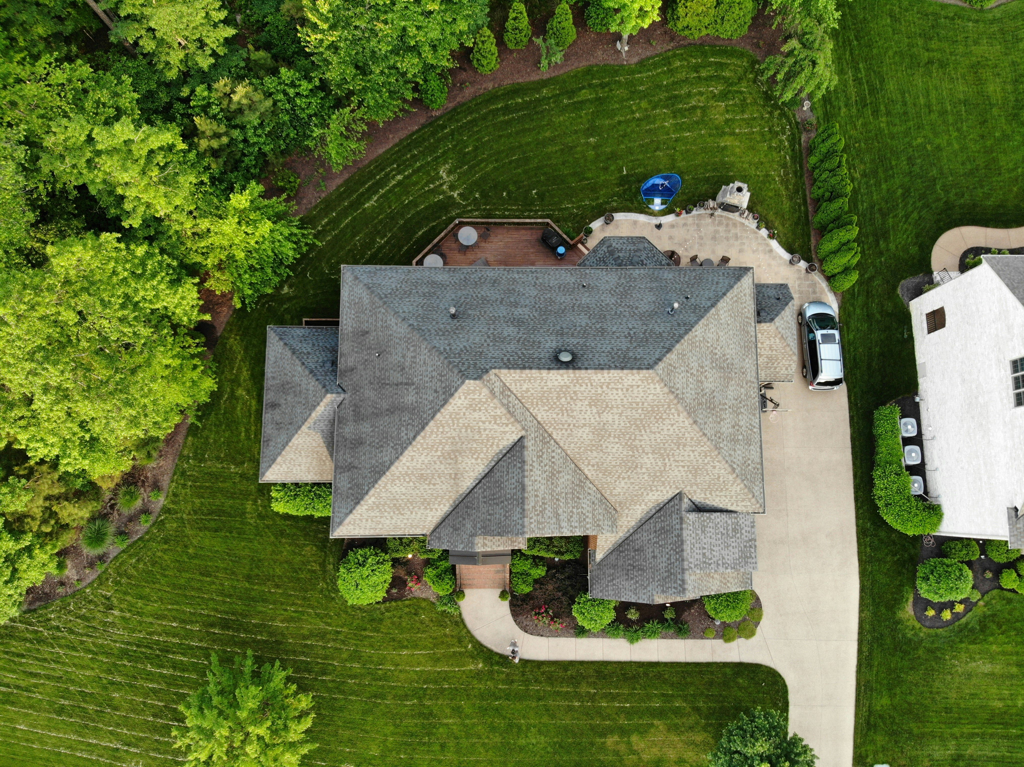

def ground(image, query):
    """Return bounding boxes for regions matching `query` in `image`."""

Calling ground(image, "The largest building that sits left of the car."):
[257,234,799,604]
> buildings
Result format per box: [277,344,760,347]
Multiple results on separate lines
[910,259,1024,550]
[257,234,799,604]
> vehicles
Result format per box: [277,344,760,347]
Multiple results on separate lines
[800,304,847,394]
